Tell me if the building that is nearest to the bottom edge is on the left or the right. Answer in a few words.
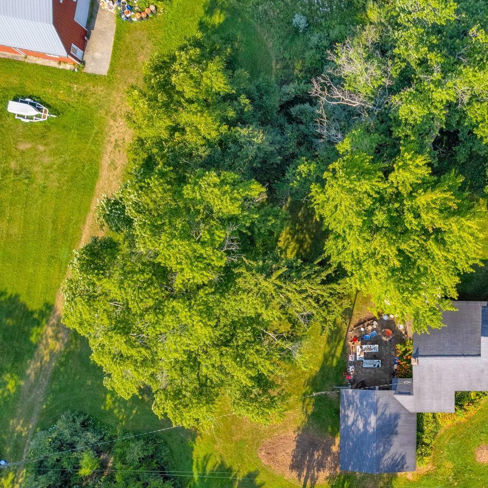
right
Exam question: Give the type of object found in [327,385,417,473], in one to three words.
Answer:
building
